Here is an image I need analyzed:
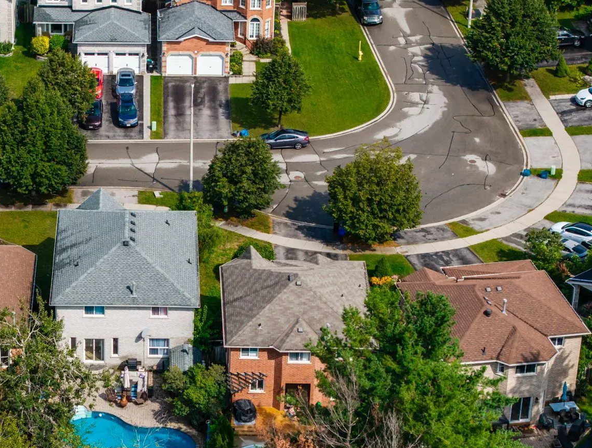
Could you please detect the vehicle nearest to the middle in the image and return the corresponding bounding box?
[258,125,312,149]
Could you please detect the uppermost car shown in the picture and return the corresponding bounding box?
[357,0,382,23]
